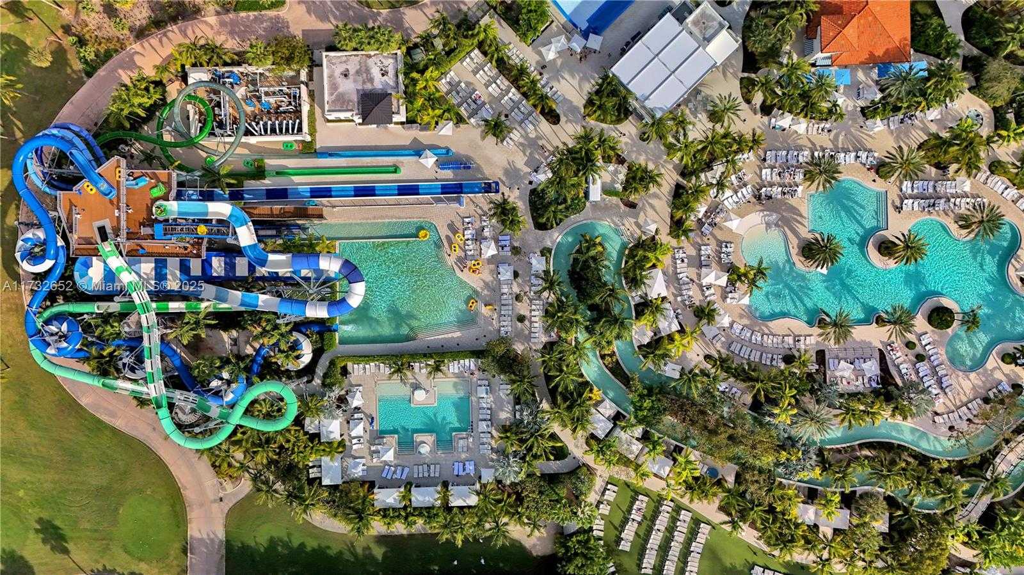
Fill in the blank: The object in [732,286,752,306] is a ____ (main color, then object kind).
white umbrella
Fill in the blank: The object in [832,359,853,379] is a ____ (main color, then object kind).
white umbrella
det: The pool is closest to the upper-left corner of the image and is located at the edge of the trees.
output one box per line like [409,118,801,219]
[304,221,480,344]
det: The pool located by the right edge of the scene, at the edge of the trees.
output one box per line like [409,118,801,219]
[741,178,1024,371]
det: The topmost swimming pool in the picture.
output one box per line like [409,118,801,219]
[553,0,636,40]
